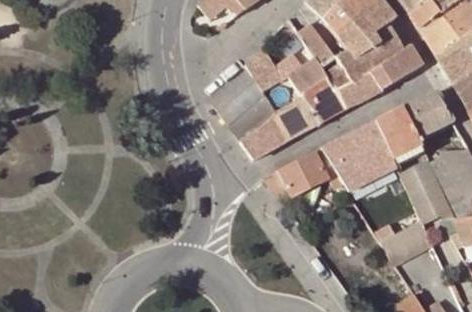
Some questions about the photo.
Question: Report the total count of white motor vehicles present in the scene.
3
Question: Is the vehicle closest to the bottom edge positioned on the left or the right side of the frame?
right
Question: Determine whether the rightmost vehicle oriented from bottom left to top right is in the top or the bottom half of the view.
top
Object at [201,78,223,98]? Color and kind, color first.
white vehicle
